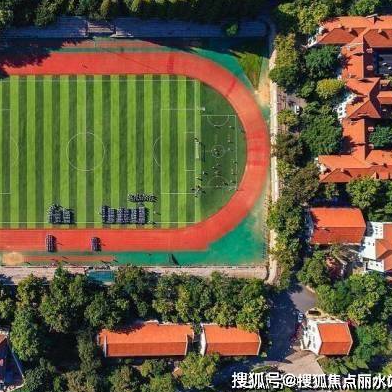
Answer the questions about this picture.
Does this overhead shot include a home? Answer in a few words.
Yes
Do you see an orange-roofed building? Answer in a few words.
Yes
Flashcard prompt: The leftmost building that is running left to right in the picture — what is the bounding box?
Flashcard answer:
[98,319,195,358]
